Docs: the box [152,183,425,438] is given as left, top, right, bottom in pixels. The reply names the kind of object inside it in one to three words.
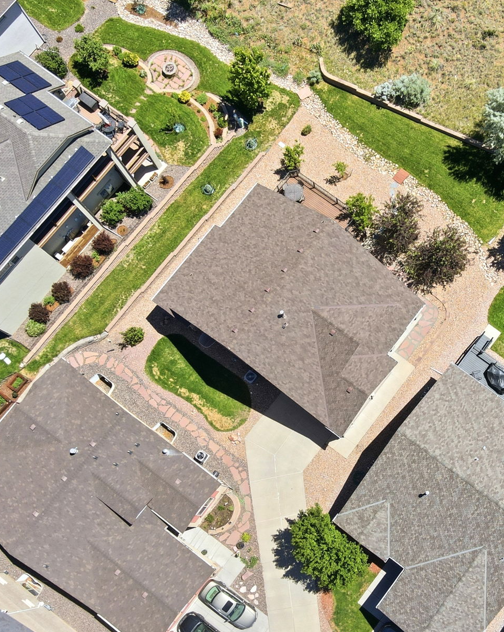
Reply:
house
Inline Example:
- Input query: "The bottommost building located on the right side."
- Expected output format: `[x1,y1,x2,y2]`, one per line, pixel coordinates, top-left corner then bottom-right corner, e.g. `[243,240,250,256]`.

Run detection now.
[335,362,504,632]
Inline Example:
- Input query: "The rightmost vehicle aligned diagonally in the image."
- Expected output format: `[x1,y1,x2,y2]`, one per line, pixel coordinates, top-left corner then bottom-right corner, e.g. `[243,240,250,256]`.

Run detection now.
[199,578,261,630]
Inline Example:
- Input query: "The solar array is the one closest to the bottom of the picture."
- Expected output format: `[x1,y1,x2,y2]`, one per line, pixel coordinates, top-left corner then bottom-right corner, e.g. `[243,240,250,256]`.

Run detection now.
[0,146,94,264]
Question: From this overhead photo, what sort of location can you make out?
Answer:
residential area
